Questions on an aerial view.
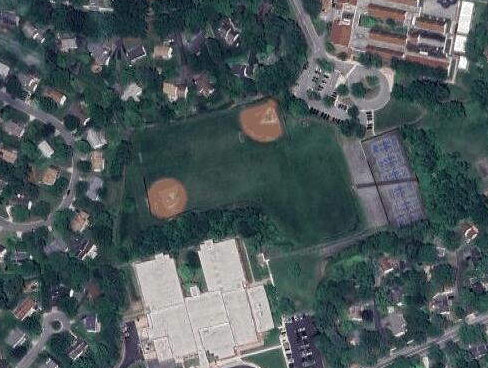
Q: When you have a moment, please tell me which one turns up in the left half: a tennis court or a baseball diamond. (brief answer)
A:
baseball diamond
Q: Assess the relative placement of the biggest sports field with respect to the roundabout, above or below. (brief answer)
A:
below it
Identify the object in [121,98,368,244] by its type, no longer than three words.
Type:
sports field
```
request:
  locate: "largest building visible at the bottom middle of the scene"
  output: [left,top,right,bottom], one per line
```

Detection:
[135,238,275,365]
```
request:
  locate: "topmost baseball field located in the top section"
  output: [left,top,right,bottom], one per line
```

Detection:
[240,99,283,142]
